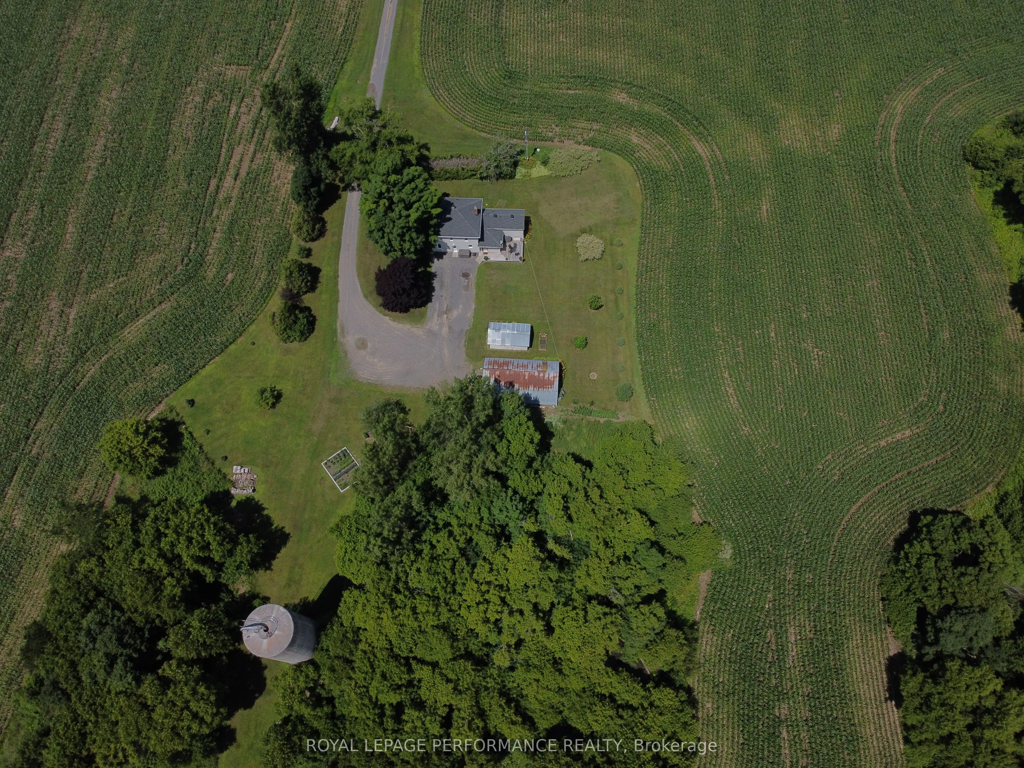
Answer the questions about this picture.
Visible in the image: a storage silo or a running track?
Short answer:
storage silo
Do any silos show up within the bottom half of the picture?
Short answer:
Yes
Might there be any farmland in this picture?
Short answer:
Yes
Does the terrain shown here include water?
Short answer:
No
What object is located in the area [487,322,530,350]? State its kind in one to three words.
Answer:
shed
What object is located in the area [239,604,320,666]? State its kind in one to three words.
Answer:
silo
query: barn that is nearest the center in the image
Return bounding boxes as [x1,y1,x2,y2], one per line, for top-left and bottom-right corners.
[478,358,559,409]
